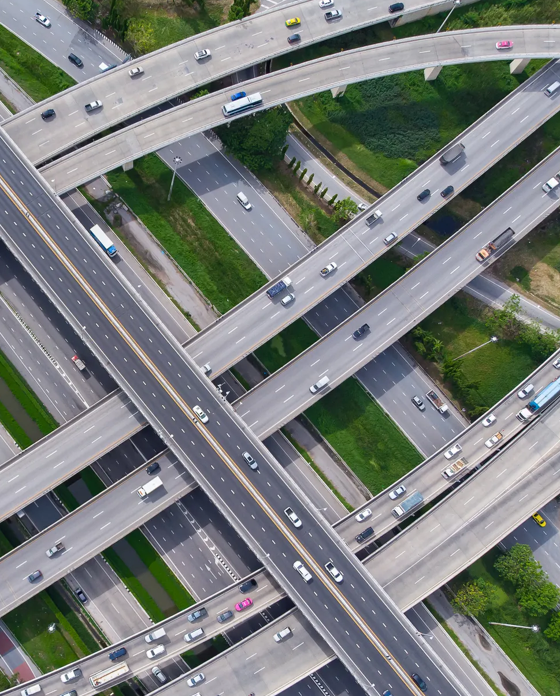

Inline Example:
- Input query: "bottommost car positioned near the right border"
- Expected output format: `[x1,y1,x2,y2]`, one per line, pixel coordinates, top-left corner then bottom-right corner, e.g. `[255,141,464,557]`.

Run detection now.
[532,513,546,528]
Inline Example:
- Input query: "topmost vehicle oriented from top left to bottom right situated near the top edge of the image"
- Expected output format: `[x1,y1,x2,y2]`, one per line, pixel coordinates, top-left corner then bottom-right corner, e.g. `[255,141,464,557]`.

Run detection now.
[33,12,51,27]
